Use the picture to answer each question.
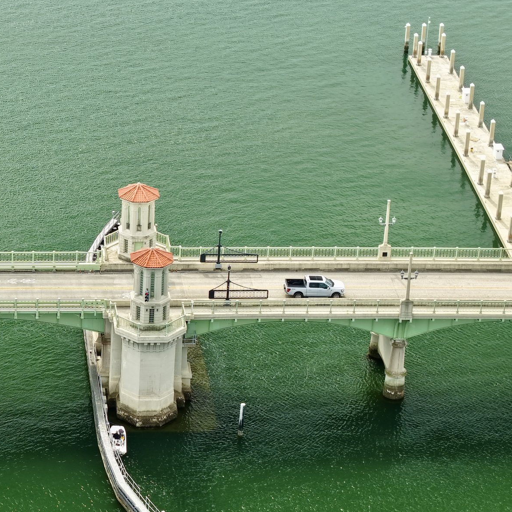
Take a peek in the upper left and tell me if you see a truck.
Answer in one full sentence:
No, there's no truck to be seen in the upper left.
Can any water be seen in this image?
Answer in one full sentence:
Yes, some water is visible.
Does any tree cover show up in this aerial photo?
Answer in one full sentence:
No, there's no tree cover in this view.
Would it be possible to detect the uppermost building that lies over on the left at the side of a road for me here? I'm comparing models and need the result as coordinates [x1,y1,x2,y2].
[114,182,160,261]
